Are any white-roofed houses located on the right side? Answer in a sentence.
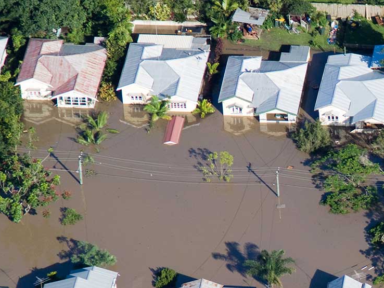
Yes, the scene does show a white-roofed house on the right side.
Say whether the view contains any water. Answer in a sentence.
Yes, water can be seen from above here.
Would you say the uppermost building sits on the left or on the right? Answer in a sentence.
The uppermost building is on the right side of the image.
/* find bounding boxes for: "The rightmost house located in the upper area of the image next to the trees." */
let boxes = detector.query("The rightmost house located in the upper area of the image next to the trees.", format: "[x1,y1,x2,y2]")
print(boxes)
[314,45,384,138]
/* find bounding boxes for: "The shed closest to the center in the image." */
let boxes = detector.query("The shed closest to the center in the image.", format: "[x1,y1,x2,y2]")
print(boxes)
[164,116,184,147]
